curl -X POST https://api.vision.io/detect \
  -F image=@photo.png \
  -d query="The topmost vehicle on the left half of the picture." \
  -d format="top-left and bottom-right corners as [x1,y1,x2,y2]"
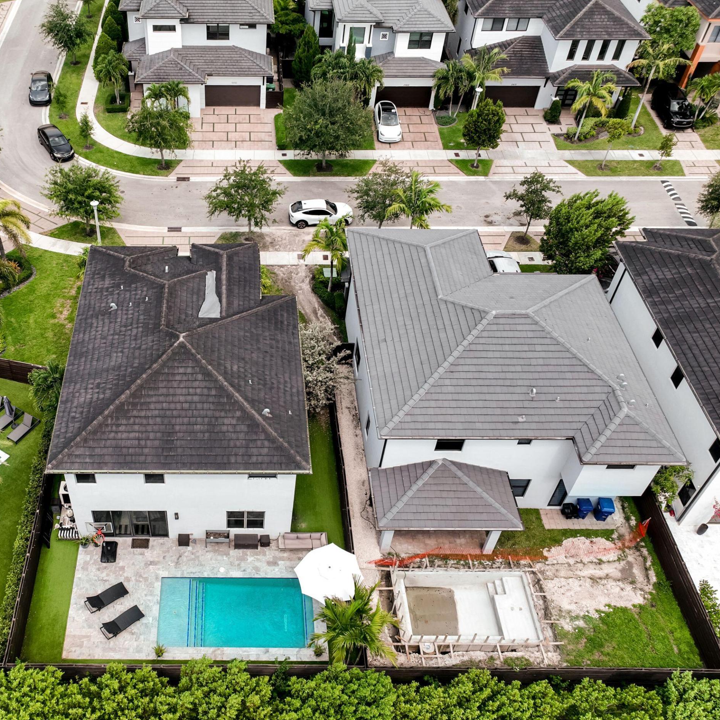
[29,71,56,101]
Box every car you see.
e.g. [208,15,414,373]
[647,80,696,125]
[29,71,56,101]
[486,246,519,273]
[289,199,353,228]
[372,101,400,137]
[35,122,71,159]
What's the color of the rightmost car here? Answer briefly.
black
